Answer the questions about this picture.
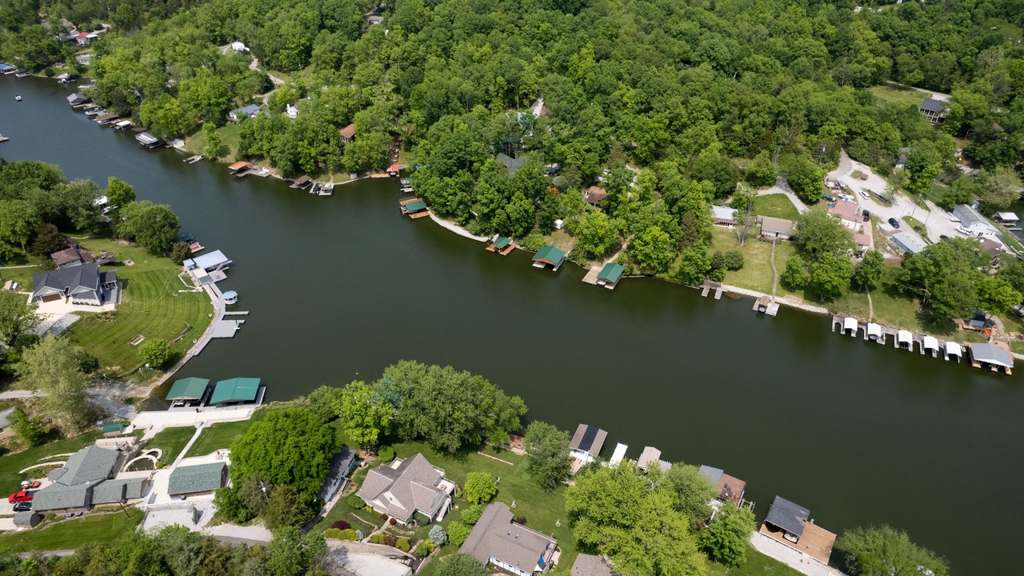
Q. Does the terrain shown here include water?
Yes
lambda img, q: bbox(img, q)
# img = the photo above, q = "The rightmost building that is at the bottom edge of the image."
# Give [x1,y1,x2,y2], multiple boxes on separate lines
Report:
[762,496,836,561]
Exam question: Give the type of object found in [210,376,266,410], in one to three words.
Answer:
building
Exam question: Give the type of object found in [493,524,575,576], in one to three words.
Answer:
house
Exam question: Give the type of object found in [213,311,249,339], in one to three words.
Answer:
pier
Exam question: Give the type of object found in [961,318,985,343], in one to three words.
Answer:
shed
